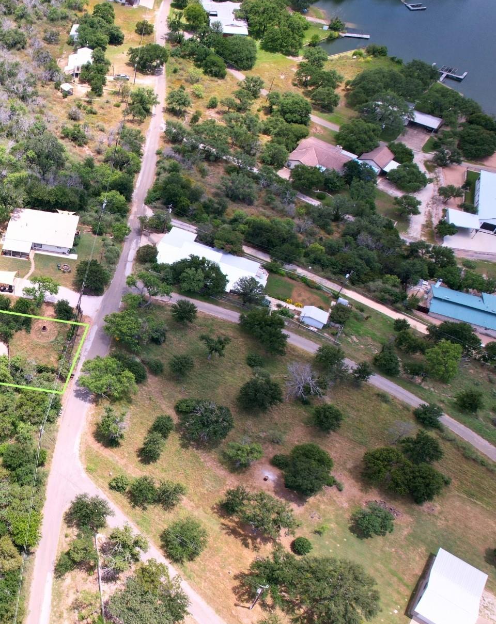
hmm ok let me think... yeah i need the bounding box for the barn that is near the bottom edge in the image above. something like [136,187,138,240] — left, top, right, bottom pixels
[410,549,489,624]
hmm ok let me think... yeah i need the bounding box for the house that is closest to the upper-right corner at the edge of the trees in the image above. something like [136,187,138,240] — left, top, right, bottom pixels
[378,103,444,135]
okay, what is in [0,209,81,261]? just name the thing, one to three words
house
